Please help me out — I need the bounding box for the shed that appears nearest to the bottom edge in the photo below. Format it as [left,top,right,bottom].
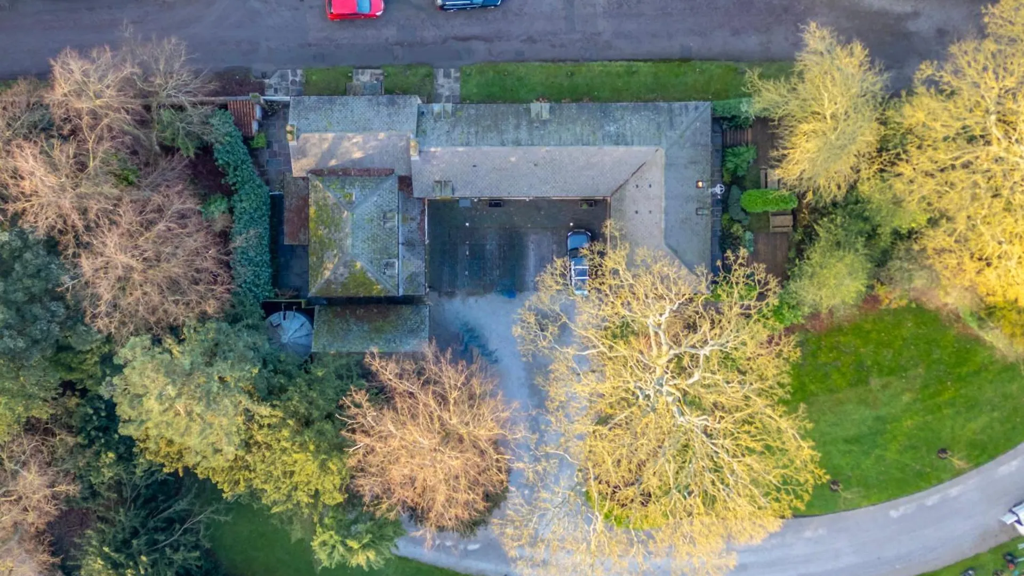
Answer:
[310,305,431,353]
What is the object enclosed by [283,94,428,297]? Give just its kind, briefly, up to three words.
house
